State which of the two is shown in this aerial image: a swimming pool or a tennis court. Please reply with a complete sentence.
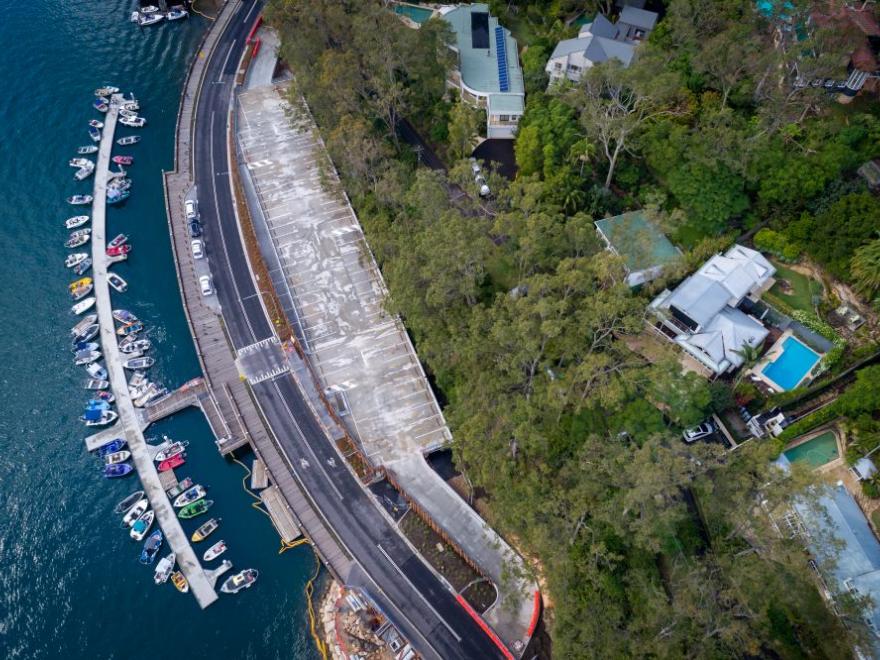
It is a swimming pool that can be seen here.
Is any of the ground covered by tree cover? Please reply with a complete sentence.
Yes, there is tree cover in the image.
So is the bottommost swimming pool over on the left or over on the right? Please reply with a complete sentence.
You can find the bottommost swimming pool on the right side of the picture.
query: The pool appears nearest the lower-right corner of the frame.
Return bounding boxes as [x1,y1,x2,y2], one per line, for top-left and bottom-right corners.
[776,419,848,478]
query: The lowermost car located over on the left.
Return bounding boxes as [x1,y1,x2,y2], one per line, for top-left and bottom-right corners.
[199,275,213,297]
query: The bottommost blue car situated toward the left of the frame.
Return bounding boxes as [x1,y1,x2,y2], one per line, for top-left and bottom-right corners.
[188,217,202,238]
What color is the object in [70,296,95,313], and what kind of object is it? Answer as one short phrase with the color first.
white boat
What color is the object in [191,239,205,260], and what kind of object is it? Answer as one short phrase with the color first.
white vehicle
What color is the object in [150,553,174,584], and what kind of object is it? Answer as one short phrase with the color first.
white boat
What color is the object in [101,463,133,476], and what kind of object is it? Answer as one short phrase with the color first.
blue boat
